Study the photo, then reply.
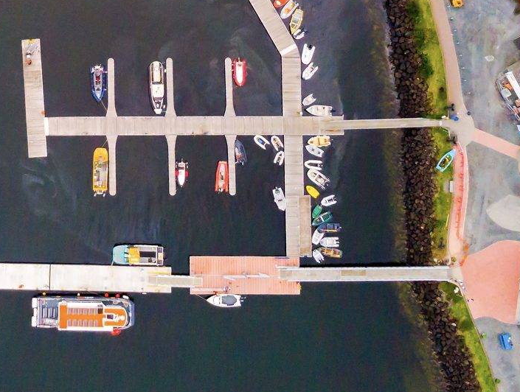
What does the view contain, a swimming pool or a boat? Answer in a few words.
boat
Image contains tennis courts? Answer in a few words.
No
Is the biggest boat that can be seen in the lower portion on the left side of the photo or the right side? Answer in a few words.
left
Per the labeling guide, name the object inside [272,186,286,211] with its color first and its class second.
white boat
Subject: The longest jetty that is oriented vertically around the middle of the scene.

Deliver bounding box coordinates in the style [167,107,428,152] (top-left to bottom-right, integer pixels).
[281,57,303,257]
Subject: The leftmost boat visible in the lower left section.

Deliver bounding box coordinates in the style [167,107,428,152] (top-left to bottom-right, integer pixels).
[29,294,134,334]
